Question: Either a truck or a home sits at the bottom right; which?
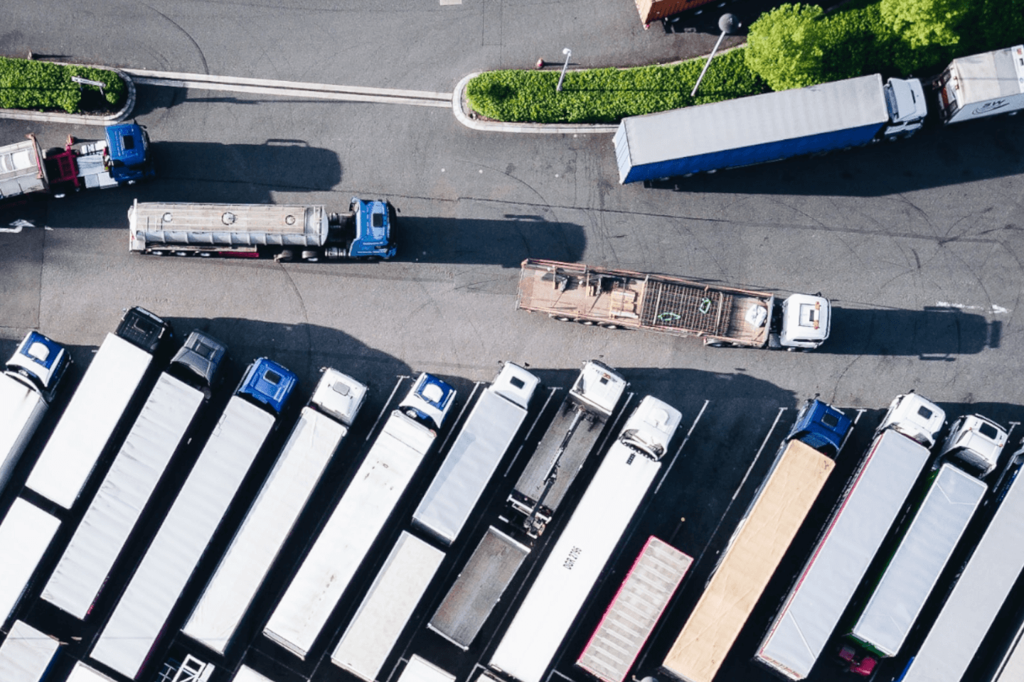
truck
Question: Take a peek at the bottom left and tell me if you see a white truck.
Yes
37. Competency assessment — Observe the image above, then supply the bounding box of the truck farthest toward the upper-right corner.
[925,45,1024,126]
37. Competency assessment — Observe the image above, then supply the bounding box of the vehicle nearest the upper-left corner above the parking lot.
[0,120,160,198]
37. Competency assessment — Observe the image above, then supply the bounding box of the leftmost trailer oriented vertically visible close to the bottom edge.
[0,499,73,651]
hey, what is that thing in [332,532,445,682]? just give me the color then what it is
white trailer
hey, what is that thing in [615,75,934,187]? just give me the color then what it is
white truck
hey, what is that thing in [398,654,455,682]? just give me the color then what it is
white trailer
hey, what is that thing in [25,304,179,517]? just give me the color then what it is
white truck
